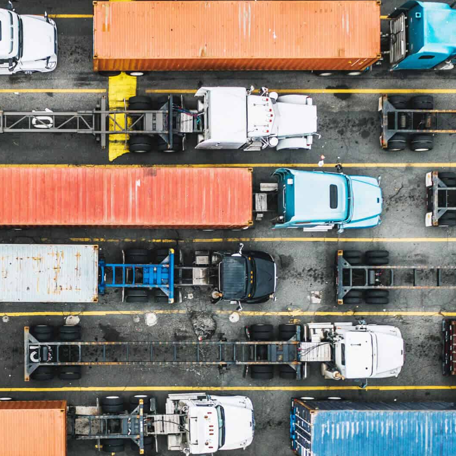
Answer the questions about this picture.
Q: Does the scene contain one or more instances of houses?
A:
No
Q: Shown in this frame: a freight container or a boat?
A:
freight container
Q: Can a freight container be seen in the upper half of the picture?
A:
Yes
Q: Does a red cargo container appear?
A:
Yes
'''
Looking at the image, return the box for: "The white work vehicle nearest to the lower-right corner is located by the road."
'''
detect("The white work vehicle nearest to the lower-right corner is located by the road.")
[244,318,403,388]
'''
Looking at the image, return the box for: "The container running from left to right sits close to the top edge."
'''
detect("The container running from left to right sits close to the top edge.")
[91,1,380,70]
